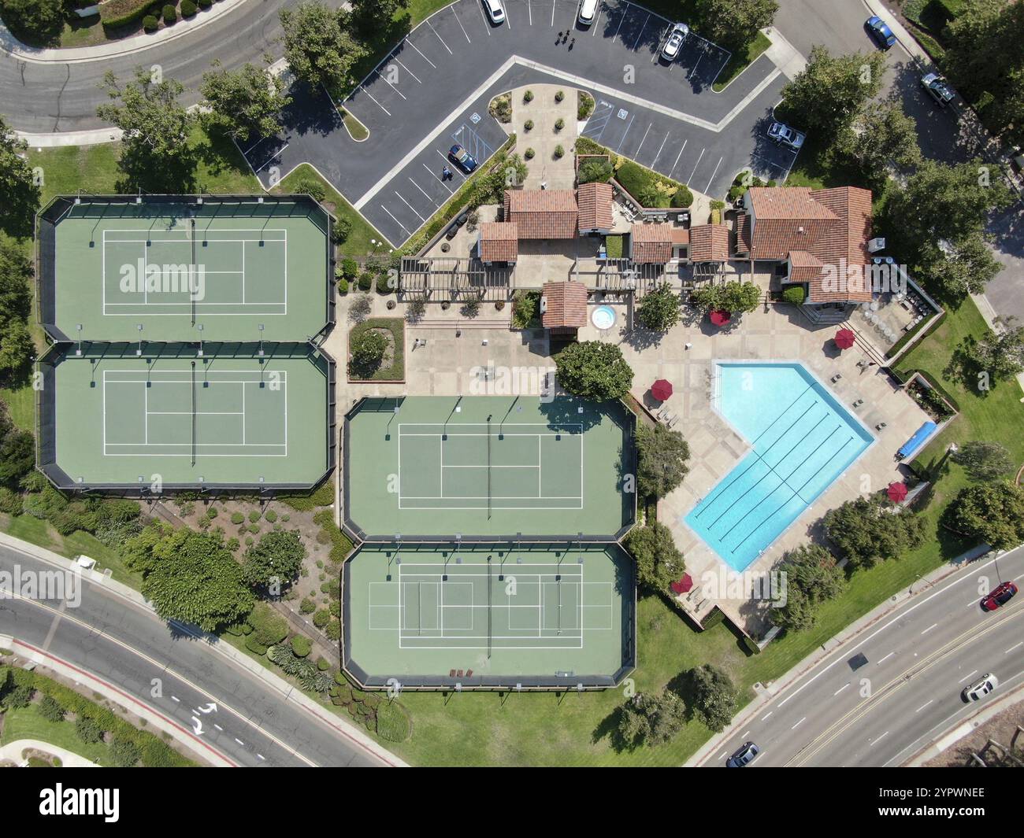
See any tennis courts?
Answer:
Yes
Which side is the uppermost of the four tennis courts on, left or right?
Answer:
left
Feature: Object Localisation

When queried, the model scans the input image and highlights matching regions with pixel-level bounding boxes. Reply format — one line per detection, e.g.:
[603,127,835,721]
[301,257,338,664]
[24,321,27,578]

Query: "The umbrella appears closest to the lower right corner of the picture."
[885,482,906,502]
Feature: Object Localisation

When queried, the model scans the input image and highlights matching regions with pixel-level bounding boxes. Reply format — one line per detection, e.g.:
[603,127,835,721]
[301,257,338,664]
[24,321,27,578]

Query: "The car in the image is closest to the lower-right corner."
[961,673,1000,702]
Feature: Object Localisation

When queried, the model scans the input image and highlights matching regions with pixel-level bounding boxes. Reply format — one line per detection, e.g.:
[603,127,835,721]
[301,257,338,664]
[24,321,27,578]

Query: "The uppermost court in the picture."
[55,202,330,342]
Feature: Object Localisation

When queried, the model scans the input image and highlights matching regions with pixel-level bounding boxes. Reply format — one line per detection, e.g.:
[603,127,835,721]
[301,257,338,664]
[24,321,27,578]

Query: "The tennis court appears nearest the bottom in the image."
[350,541,632,676]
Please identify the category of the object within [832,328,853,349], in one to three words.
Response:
umbrella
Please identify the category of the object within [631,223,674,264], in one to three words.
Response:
shed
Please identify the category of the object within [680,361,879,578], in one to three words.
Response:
swimming pool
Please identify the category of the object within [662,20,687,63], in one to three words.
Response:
car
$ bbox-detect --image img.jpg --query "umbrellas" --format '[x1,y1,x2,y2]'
[708,309,729,327]
[832,328,853,349]
[885,482,906,502]
[651,379,671,400]
[670,572,692,593]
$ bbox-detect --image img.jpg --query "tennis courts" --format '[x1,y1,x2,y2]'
[350,397,632,536]
[55,202,330,342]
[350,541,632,676]
[55,343,334,484]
